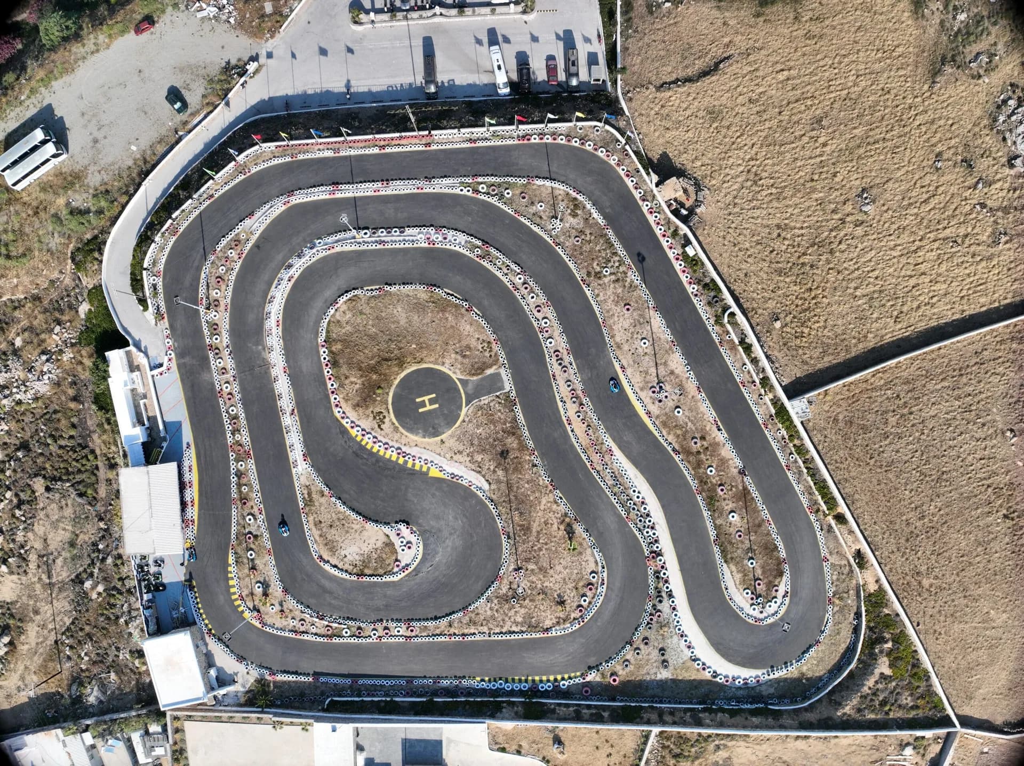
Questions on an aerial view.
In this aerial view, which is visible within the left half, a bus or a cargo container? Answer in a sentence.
You can see a bus within the left half.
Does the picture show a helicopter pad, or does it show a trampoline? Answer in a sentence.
It is a helicopter pad that can be seen here.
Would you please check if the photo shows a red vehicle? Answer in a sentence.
Yes, there is a red vehicle in the image.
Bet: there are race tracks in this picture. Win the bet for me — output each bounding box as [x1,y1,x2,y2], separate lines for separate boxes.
[162,142,827,678]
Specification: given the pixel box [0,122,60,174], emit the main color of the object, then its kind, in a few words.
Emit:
white bus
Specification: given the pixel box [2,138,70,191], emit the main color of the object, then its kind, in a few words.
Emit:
white bus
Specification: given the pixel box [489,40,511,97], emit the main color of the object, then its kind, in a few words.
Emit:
white vehicle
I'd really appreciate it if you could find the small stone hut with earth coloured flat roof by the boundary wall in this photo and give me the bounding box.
[657,176,683,205]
